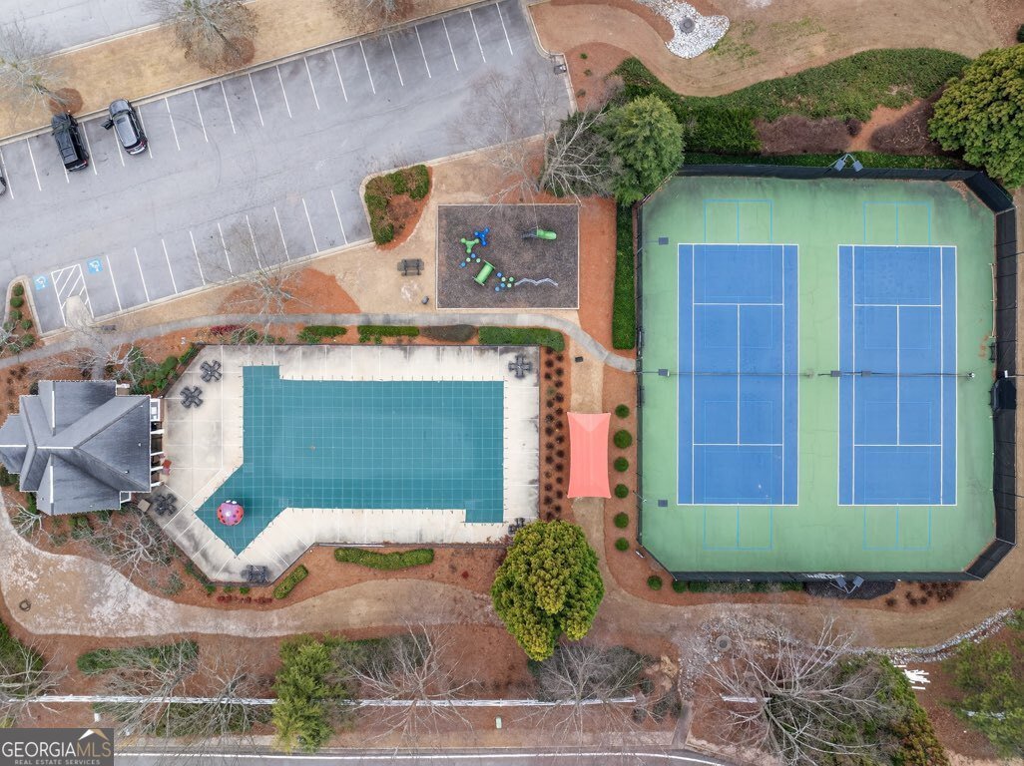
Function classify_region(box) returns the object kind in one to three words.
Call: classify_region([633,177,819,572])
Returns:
tennis court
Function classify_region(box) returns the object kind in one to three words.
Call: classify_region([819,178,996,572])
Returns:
tennis court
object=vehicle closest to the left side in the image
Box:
[48,108,87,168]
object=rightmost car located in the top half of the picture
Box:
[103,98,145,154]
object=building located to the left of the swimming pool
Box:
[0,379,170,517]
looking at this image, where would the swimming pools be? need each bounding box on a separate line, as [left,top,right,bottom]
[194,361,508,555]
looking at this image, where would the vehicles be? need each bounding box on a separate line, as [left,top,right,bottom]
[48,108,87,168]
[103,98,145,154]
